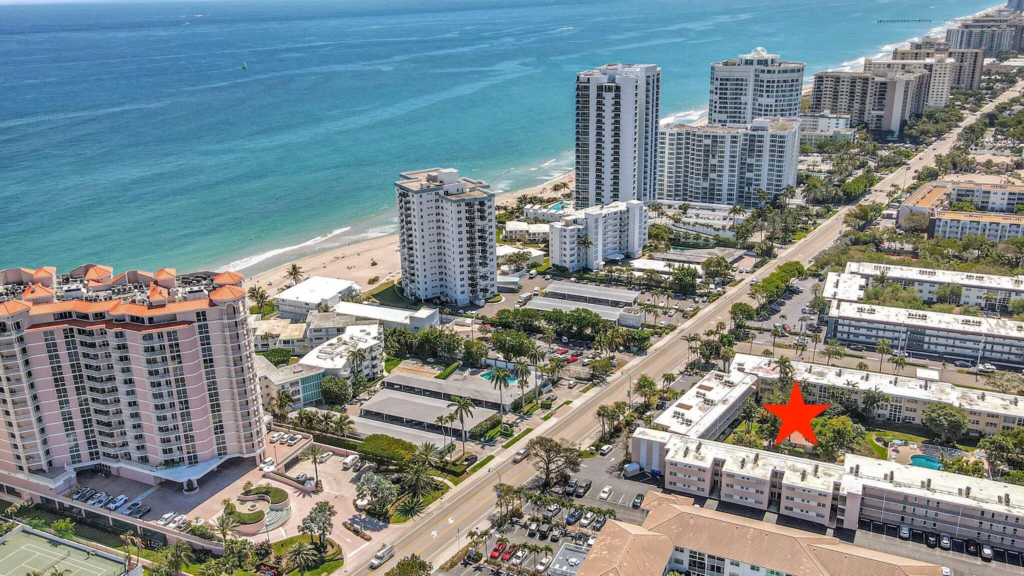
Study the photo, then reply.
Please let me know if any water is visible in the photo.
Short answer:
Yes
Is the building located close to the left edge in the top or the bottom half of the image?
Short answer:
bottom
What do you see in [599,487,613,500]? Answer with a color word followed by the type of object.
white vehicle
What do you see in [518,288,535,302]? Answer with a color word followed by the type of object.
white vehicle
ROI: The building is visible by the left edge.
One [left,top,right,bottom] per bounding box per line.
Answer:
[0,263,275,499]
